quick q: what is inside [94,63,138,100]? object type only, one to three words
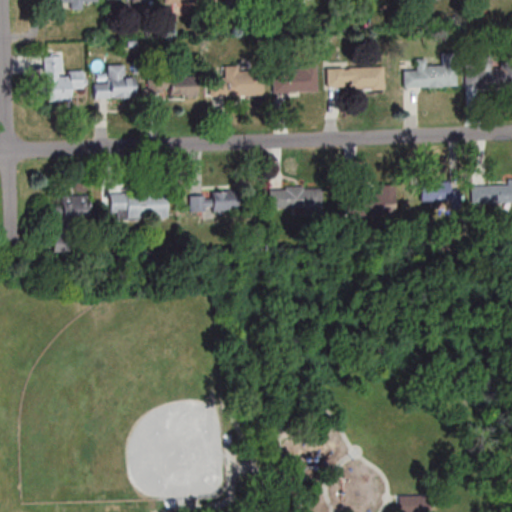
house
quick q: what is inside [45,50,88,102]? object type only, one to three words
house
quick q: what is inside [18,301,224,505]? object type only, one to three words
baseball field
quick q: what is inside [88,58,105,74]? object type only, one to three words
swimming pool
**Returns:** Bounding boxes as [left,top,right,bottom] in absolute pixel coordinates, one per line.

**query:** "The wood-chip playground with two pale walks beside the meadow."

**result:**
[278,429,385,512]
